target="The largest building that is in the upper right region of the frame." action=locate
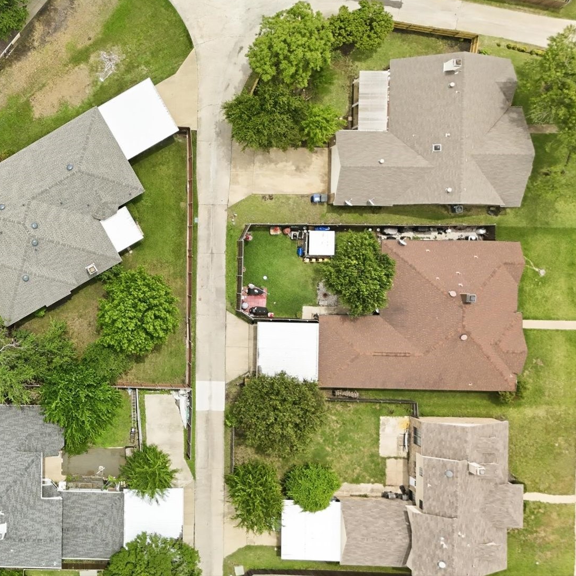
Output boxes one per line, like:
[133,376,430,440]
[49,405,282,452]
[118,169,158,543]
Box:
[330,52,534,207]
